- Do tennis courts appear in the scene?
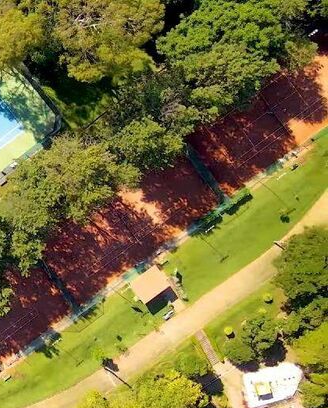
Yes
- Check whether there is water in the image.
No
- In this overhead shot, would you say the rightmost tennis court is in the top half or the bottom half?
top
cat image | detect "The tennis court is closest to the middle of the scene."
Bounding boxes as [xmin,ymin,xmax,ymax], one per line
[34,137,223,306]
